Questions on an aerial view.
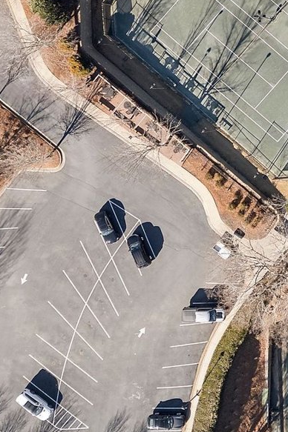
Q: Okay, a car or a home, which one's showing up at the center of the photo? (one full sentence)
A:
It is a car that can be seen at the center of the photo.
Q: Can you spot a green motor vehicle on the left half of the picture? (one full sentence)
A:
No, no green motor vehicle appears on the left half of the picture.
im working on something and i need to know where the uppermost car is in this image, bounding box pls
[93,210,121,244]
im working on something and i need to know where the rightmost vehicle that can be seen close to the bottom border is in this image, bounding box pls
[147,412,186,432]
